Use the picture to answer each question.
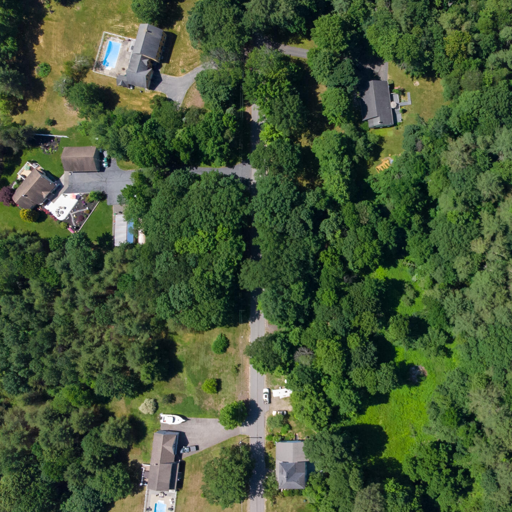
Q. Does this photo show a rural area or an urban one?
rural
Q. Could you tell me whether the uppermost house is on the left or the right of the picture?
left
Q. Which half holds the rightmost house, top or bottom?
top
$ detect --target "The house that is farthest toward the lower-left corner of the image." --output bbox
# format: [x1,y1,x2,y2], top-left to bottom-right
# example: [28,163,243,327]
[140,430,182,492]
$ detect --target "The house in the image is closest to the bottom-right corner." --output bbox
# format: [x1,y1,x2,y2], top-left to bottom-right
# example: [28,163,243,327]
[276,434,310,490]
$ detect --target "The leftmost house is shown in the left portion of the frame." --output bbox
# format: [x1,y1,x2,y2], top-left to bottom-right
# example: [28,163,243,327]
[11,162,59,213]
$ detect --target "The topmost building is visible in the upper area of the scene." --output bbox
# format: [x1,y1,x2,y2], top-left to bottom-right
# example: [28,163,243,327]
[115,23,166,89]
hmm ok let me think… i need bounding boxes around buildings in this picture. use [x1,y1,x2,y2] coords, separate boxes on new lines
[115,23,166,89]
[61,146,99,171]
[276,434,310,490]
[140,430,182,492]
[11,162,59,213]
[358,79,412,129]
